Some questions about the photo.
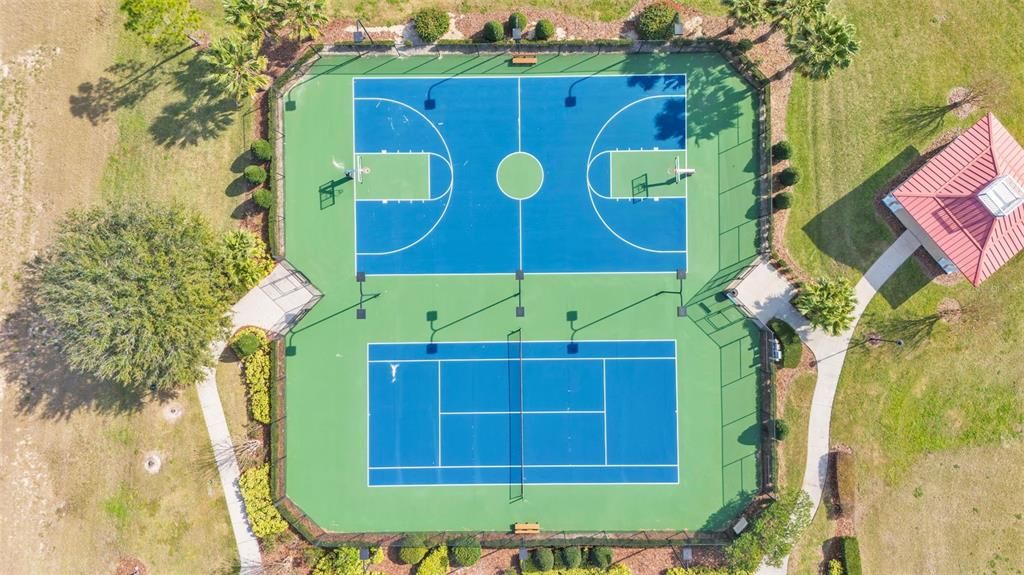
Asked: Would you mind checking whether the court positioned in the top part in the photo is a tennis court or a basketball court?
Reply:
basketball court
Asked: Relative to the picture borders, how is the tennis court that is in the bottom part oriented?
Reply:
from left to right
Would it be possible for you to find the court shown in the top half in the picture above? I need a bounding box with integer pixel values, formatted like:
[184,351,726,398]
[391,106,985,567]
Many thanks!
[353,73,688,276]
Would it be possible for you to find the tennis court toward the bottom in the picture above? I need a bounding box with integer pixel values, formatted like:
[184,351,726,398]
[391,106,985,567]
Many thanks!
[367,340,680,487]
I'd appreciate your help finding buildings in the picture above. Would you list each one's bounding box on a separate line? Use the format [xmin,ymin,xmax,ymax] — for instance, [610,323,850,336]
[880,109,1024,288]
